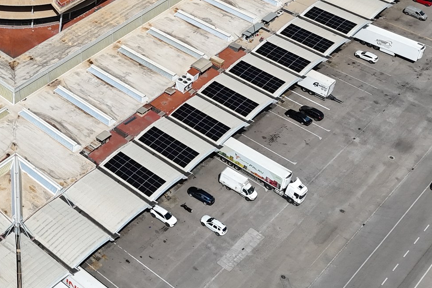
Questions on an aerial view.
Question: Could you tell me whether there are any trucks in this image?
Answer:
Yes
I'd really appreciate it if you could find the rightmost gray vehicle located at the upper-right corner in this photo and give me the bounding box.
[403,5,427,21]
